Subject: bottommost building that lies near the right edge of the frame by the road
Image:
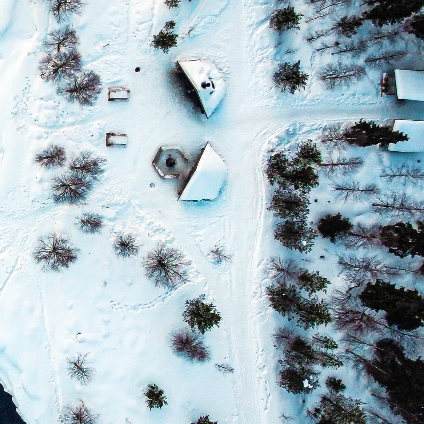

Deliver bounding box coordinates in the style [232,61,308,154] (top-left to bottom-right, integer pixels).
[385,119,424,153]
